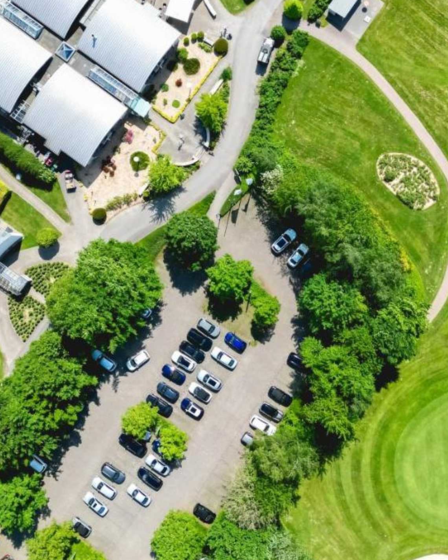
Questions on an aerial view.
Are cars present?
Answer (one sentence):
Yes, looking at the shot, I can spot a car.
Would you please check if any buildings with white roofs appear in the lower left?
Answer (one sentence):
No, the scene shows no building with a white roof in the lower left.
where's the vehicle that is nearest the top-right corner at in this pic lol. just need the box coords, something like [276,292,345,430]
[257,36,274,63]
